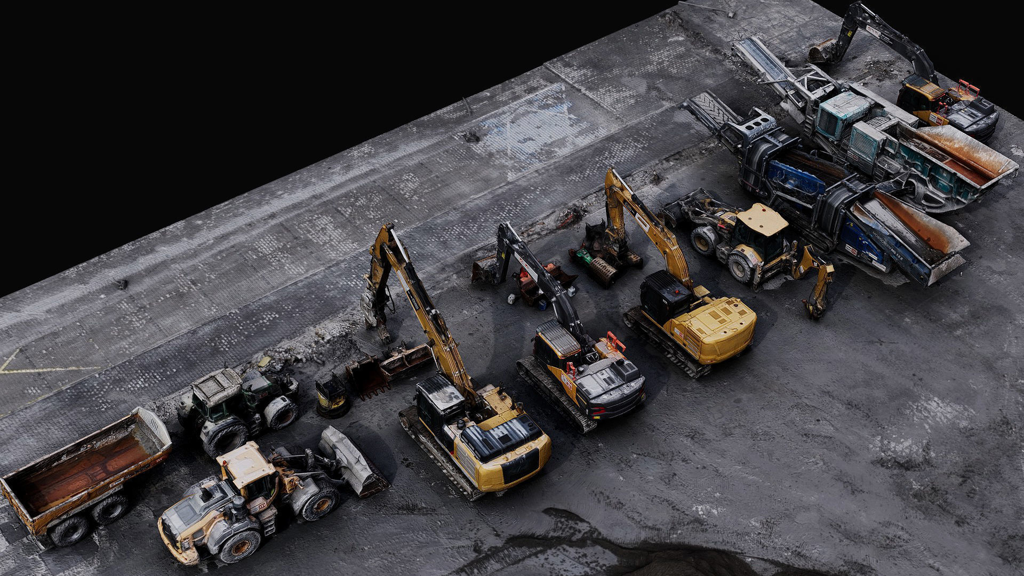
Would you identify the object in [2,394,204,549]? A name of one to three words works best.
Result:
trailer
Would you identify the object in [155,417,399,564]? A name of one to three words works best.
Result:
work vehicle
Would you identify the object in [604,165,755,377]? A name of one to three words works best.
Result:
work vehicle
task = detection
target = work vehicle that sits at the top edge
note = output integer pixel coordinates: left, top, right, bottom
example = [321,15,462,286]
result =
[831,1,998,139]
